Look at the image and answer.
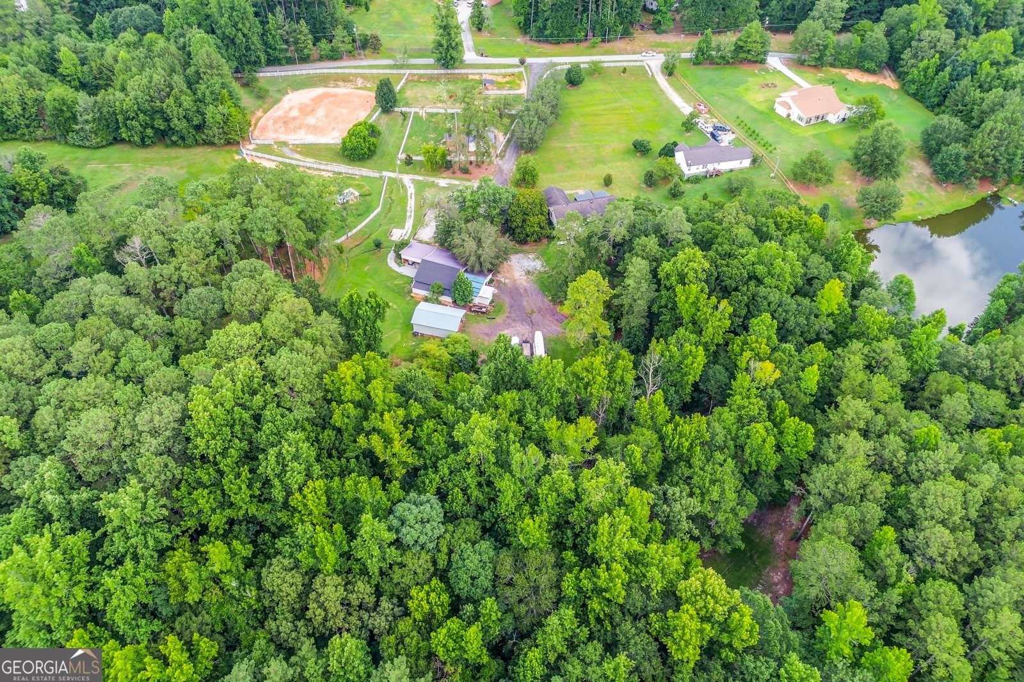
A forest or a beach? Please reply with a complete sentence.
It's a forest.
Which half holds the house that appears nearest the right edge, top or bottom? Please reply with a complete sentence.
It is in the top half that the house that appears nearest the right edge appears.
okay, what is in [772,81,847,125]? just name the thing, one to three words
house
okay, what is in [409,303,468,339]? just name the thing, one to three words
barn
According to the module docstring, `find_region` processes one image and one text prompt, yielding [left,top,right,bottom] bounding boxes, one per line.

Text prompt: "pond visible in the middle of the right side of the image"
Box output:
[848,191,1024,355]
